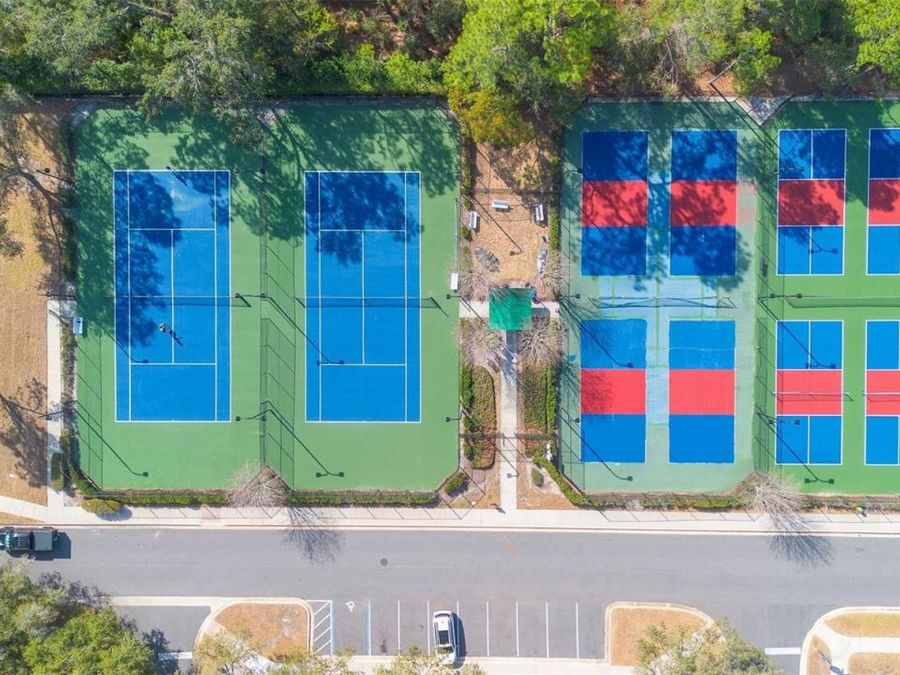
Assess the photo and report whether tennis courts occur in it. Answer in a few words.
Yes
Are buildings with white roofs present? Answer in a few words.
No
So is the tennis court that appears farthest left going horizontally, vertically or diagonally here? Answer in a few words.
vertically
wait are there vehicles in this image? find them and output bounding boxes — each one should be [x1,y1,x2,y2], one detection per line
[0,530,54,558]
[434,612,460,667]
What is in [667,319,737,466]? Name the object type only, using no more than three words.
sports court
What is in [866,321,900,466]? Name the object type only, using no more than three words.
sports court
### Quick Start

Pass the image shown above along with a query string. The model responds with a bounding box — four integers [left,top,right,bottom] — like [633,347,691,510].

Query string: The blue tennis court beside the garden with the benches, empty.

[304,170,421,423]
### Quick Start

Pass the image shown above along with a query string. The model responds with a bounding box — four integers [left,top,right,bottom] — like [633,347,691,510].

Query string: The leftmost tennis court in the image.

[112,169,231,422]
